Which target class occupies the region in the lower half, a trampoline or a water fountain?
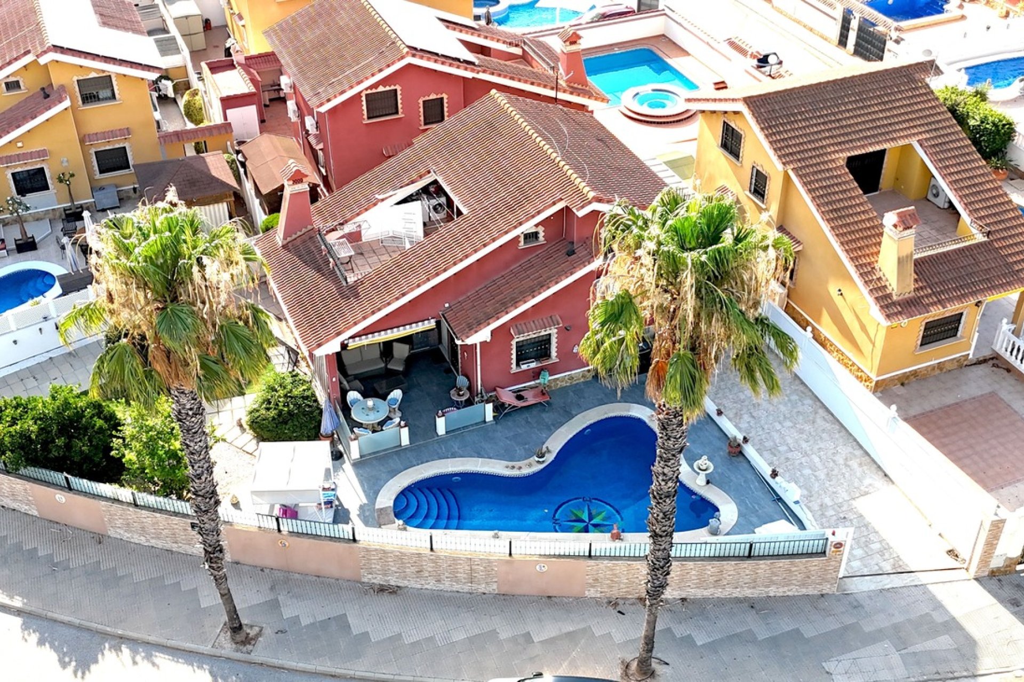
water fountain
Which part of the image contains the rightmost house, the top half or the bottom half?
top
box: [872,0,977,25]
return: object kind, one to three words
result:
swimming pool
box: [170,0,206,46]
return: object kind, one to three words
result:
shed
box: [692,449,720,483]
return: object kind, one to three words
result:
fountain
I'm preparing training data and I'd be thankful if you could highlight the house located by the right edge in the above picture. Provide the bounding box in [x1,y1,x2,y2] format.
[675,39,1024,393]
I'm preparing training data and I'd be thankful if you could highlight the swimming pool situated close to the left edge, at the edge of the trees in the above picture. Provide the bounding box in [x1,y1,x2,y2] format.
[0,260,71,323]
